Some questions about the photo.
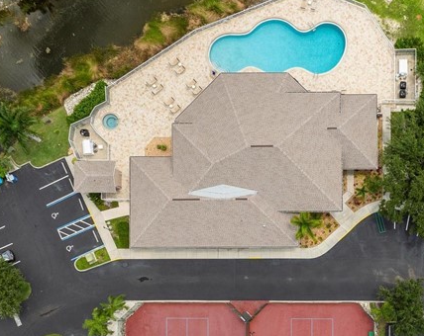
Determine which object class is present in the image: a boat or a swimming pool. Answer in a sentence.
Of the two, only a swimming pool appears.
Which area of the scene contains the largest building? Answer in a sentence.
The largest building is in the center part of the image.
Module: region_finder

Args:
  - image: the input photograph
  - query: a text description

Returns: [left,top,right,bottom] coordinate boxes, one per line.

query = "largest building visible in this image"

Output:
[130,72,377,248]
